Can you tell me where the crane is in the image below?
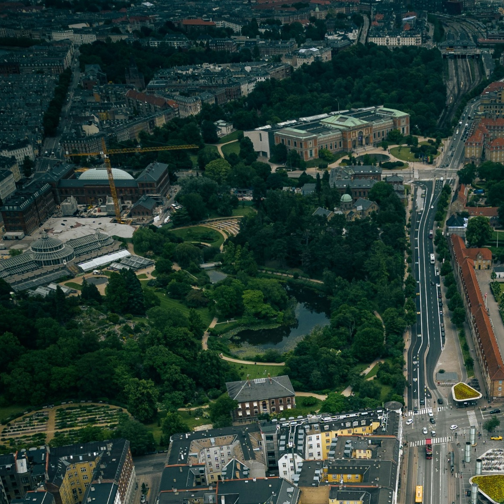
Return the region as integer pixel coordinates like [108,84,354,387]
[70,144,202,224]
